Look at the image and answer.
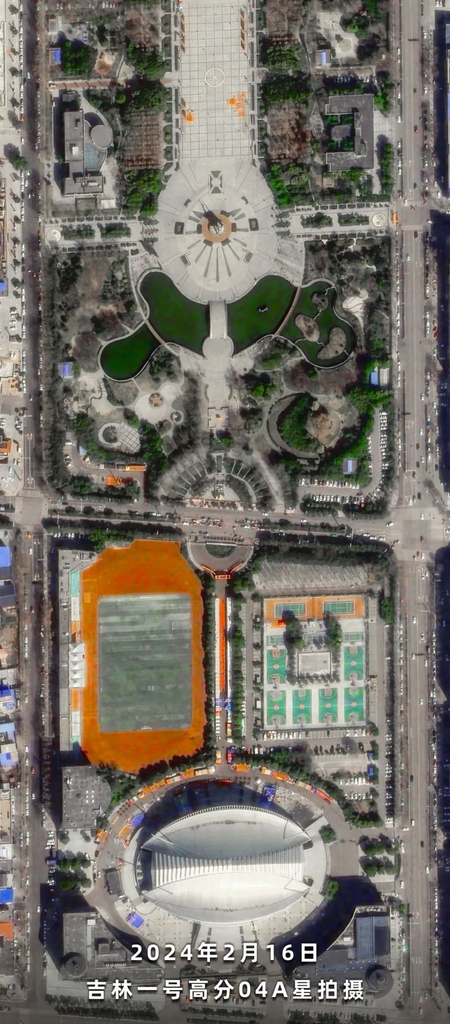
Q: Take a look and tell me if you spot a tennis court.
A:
Yes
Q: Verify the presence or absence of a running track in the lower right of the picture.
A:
No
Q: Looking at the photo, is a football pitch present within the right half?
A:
No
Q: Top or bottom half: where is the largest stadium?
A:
bottom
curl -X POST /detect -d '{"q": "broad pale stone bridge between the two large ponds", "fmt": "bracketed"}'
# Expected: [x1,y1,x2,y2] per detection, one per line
[209,300,227,338]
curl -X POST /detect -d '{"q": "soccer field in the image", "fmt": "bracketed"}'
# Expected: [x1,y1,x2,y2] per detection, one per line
[99,594,191,732]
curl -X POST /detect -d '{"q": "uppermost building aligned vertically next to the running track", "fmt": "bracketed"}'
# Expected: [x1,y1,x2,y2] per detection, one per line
[58,550,96,751]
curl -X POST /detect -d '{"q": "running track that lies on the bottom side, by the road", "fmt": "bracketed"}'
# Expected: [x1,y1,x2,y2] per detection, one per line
[81,540,207,773]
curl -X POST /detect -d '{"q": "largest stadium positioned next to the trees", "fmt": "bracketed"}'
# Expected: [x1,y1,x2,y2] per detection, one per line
[133,804,313,929]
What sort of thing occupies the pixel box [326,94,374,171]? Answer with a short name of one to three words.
building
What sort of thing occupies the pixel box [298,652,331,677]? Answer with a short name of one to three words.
sports court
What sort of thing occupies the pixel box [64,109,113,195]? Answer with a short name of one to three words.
building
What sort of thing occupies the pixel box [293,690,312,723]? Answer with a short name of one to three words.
basketball court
